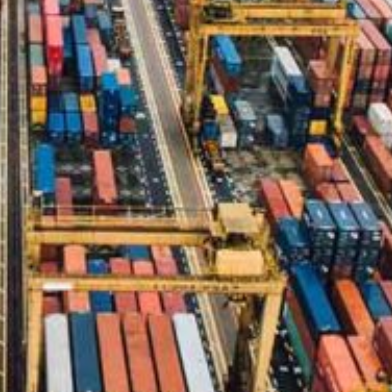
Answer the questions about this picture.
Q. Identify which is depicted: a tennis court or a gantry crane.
gantry crane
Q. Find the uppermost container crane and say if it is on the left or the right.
right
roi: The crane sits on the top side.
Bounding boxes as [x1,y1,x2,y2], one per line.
[179,0,356,147]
